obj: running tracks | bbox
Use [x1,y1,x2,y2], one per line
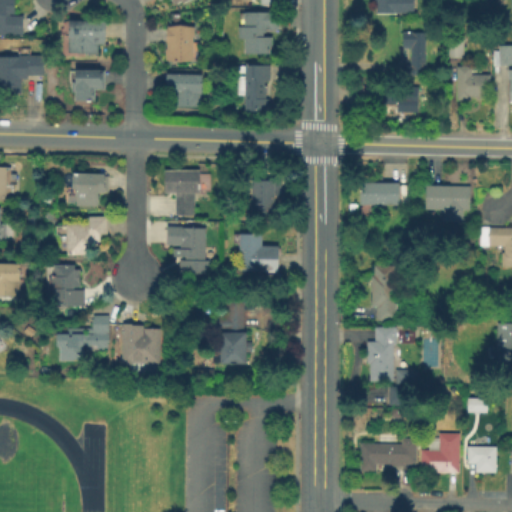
[0,399,106,512]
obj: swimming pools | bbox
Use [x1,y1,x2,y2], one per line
[420,334,443,370]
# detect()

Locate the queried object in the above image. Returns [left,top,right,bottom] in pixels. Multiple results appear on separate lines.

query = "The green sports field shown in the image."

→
[0,418,81,512]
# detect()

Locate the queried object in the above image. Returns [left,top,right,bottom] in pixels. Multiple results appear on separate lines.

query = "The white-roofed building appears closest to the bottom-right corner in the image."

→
[468,446,498,474]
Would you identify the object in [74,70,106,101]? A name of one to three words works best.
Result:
house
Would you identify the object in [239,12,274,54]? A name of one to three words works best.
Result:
house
